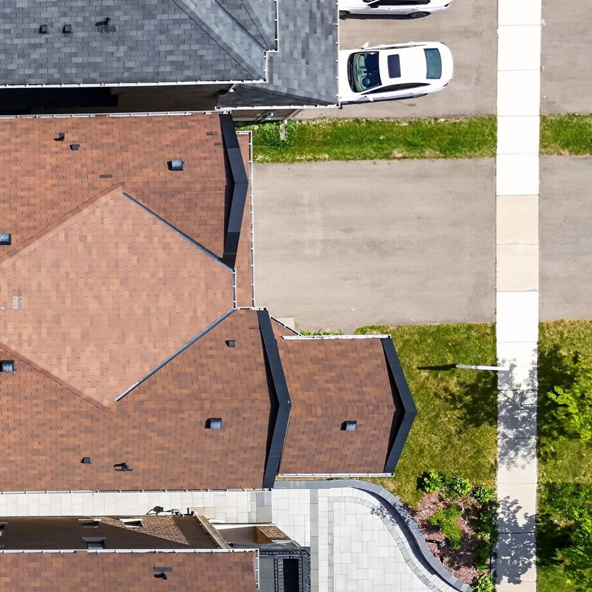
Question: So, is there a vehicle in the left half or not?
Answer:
No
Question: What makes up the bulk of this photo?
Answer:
buildings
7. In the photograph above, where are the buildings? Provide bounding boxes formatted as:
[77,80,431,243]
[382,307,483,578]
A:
[0,509,312,592]
[0,109,414,497]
